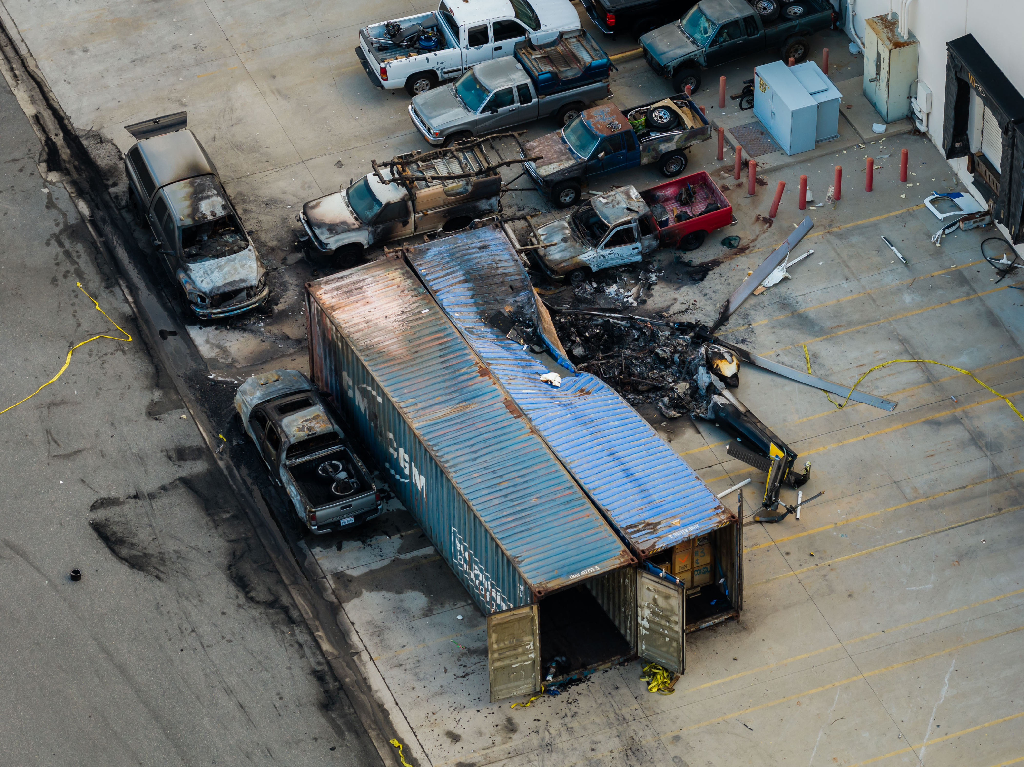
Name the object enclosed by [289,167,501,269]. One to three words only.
truck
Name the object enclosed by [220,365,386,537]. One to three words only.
truck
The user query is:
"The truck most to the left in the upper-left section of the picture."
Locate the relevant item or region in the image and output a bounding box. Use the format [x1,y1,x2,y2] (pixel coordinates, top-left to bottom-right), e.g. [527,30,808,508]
[128,98,271,313]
